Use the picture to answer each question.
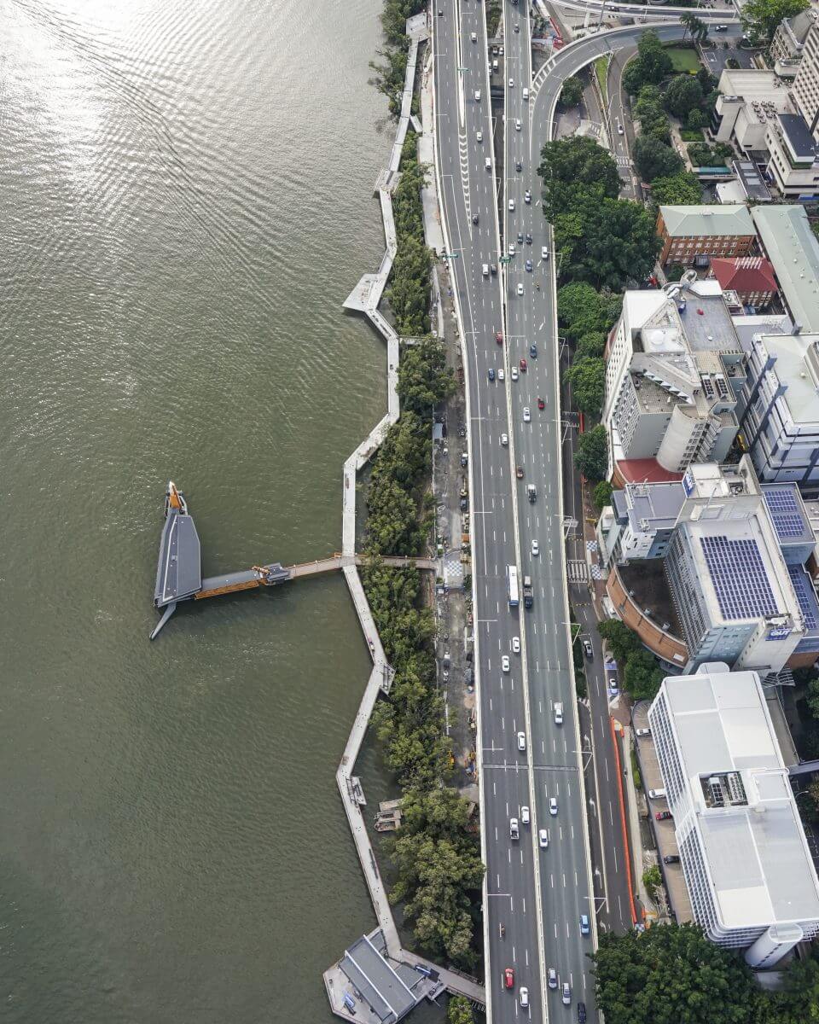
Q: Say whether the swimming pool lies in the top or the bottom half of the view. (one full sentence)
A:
You can find the swimming pool in the top half.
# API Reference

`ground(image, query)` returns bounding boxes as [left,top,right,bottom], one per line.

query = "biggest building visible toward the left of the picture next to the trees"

[150,480,344,642]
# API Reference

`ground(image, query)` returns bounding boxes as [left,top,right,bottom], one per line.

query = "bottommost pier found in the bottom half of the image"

[323,925,445,1024]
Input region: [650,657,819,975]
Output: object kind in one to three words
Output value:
building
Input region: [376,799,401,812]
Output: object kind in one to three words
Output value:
ship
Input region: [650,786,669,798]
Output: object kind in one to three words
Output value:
vehicle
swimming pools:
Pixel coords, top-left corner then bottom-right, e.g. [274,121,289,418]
[693,166,735,186]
